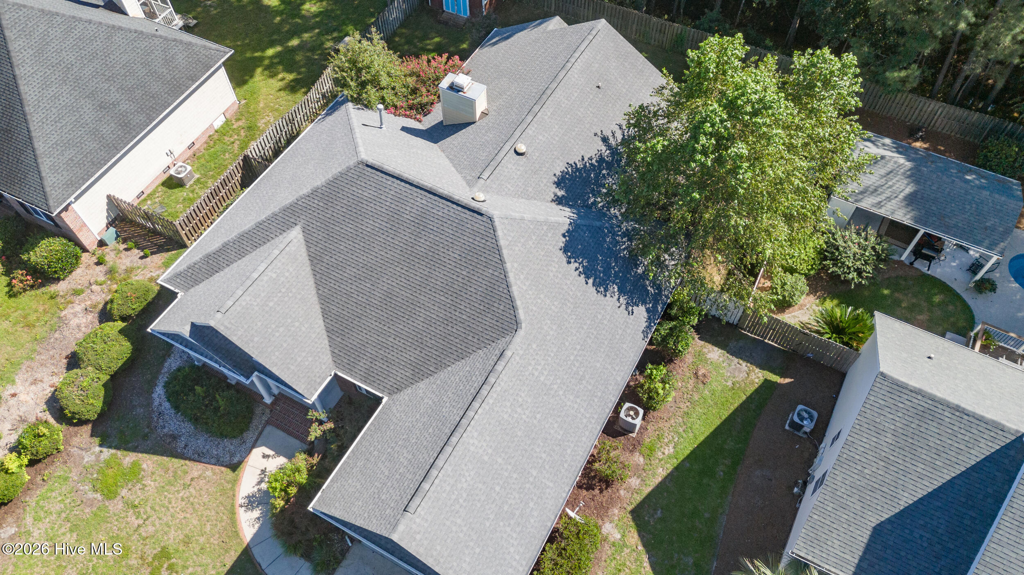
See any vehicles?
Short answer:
No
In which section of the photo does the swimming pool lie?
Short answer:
right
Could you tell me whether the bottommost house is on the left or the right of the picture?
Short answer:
right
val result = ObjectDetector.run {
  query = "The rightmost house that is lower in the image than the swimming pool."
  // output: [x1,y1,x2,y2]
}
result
[778,308,1024,575]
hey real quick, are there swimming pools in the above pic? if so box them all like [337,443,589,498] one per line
[1004,244,1024,292]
